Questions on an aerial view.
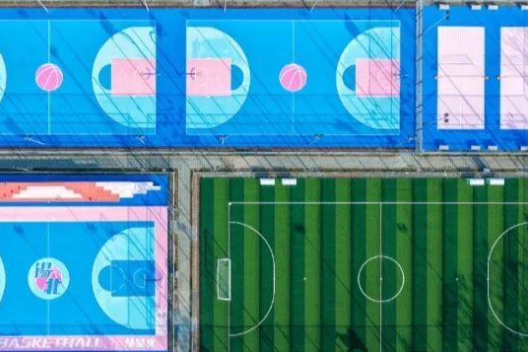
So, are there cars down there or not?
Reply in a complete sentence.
No, the frame has no car in it.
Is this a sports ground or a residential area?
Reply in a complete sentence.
This looks like a sports ground.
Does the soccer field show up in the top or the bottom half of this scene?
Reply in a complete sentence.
Seen from above, the soccer field lies in the bottom half of the view.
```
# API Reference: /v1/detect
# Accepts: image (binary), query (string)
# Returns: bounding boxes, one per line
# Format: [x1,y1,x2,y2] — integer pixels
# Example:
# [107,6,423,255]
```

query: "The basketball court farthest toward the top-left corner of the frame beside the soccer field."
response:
[0,7,171,147]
